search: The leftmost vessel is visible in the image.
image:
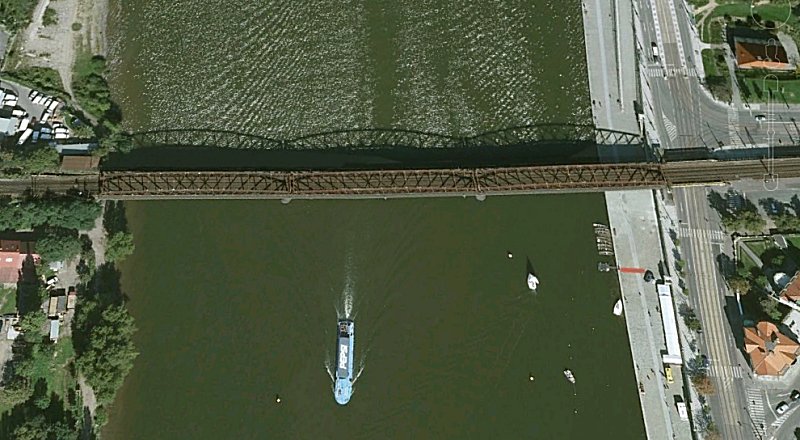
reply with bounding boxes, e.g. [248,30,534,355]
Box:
[334,319,354,405]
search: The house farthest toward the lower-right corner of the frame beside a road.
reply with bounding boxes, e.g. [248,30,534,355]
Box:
[741,321,799,374]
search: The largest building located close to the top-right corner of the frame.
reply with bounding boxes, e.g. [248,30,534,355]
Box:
[735,39,790,69]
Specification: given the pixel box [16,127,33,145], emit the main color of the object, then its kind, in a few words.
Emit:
white vehicle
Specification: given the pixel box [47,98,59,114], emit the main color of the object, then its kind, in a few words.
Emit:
white vehicle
